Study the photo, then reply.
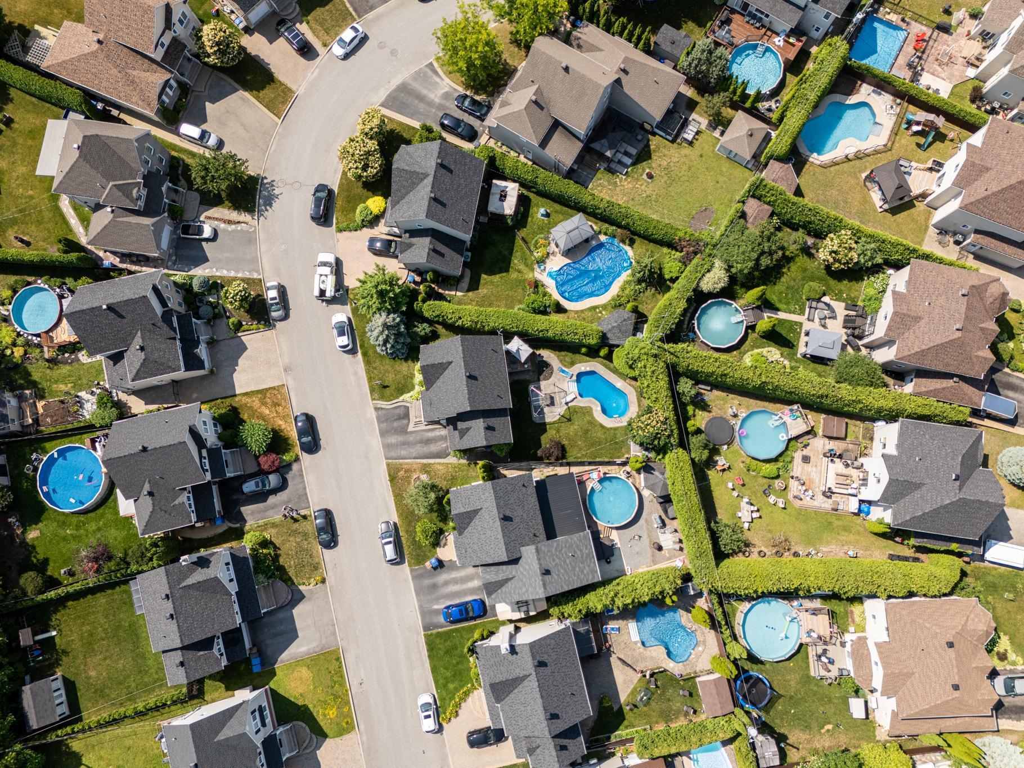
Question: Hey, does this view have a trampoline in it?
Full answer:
Yes, the photo shows a trampoline.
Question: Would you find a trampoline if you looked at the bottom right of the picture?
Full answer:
Yes, you'll find a trampoline at the bottom right of the picture.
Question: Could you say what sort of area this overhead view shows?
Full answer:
This image shows a residential area.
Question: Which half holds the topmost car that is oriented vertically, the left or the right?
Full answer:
It is on the left.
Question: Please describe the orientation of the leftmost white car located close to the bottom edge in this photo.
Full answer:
I'd say the leftmost white car located close to the bottom edge is aligned from top to bottom in the picture.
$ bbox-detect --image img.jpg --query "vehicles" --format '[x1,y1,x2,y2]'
[311,184,331,225]
[294,412,317,453]
[365,237,400,256]
[241,472,283,496]
[178,221,215,240]
[443,598,484,621]
[330,313,353,352]
[418,693,438,732]
[437,113,479,142]
[452,93,492,122]
[332,23,367,60]
[275,16,310,56]
[313,252,337,306]
[265,280,288,322]
[177,122,220,149]
[312,508,337,549]
[377,521,400,563]
[993,674,1024,696]
[469,727,507,748]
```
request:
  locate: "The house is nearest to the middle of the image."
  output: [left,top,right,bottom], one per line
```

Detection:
[413,334,513,452]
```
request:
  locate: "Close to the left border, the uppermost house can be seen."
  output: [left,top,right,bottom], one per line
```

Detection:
[40,0,218,119]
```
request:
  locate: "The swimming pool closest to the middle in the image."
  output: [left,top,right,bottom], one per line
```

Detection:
[573,367,632,425]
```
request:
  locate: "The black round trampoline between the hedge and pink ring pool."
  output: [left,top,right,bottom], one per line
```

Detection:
[702,416,734,446]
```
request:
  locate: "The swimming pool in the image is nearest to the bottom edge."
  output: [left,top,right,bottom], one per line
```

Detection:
[689,738,734,768]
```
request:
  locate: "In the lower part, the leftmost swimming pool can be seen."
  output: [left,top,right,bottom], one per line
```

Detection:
[39,444,112,512]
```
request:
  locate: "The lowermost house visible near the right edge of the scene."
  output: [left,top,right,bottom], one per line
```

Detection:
[841,587,1000,737]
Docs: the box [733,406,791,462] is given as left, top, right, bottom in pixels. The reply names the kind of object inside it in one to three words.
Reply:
swimming pool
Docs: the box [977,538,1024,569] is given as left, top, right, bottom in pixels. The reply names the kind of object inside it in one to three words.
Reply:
trailer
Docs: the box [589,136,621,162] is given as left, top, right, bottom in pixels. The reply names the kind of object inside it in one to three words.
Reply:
gazebo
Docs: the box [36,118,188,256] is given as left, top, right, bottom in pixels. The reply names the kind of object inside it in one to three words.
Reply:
house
